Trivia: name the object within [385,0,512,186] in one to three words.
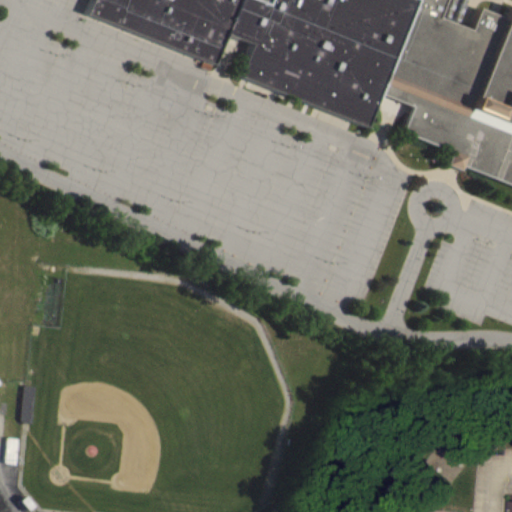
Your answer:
building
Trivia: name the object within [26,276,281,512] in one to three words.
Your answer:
baseball field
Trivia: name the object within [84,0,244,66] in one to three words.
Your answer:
building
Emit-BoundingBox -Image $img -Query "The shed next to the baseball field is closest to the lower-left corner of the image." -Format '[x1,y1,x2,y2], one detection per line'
[4,437,20,466]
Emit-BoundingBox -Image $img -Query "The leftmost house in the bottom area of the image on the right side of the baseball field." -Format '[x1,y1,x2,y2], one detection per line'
[428,452,465,484]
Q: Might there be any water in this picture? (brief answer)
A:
No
